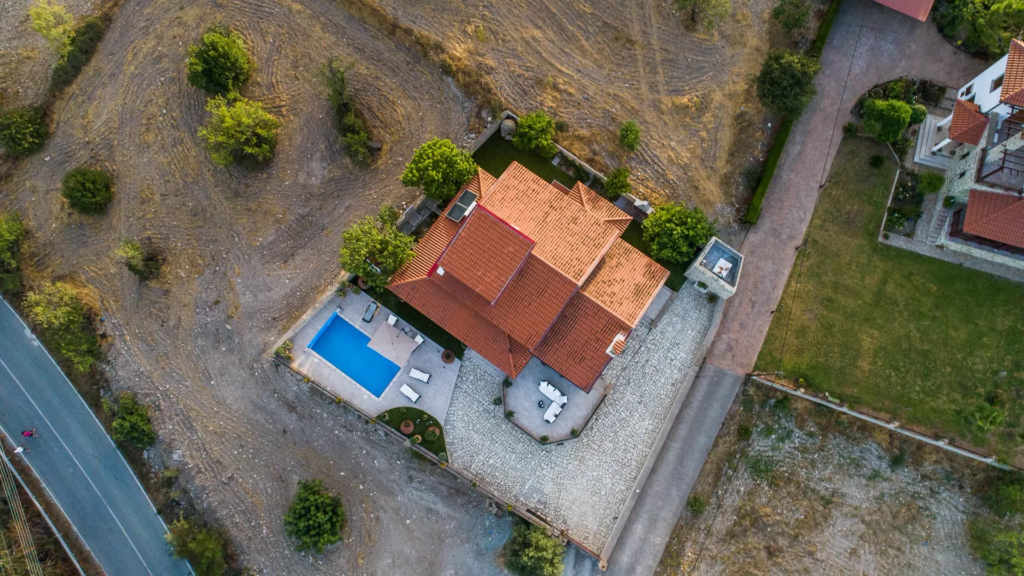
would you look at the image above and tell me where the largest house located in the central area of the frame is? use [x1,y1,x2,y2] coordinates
[388,161,671,392]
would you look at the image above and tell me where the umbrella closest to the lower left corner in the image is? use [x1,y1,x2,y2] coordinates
[368,321,419,367]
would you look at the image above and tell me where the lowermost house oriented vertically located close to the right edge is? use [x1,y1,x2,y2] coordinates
[915,38,1024,273]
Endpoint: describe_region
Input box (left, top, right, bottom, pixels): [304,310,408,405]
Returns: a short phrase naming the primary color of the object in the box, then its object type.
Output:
blue swimming pool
